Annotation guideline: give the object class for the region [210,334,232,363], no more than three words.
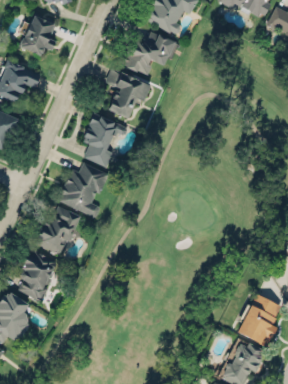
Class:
swimming pool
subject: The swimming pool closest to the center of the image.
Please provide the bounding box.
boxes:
[112,128,134,154]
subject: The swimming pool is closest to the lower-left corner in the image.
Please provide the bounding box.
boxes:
[30,310,47,330]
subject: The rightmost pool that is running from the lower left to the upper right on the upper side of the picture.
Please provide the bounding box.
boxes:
[177,13,200,36]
